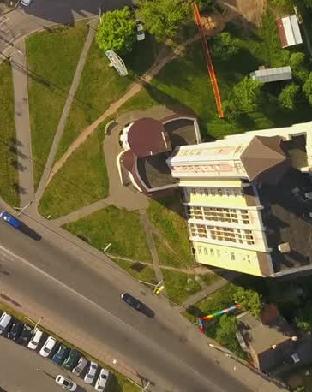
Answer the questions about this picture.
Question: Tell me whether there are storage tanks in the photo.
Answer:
No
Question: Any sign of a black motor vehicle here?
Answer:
Yes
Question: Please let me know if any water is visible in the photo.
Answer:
No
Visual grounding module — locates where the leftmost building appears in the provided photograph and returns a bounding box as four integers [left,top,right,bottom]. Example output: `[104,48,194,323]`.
[109,117,200,191]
